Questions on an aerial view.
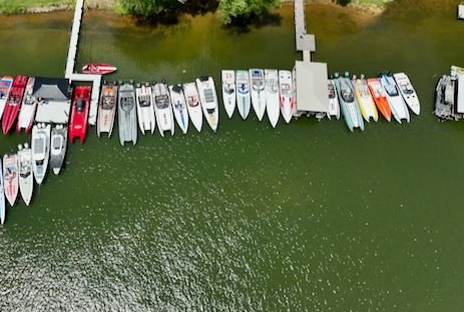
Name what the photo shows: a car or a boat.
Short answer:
boat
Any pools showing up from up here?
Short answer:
No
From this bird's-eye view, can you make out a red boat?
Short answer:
Yes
